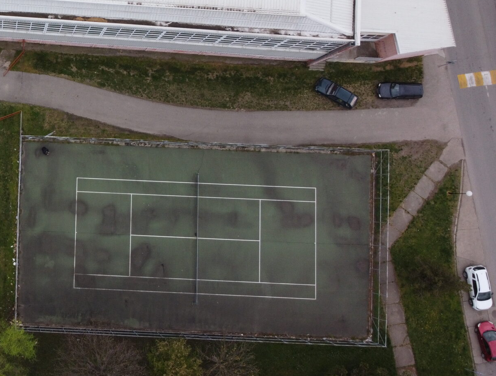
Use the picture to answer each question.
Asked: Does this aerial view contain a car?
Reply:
Yes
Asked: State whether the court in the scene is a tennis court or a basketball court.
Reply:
tennis court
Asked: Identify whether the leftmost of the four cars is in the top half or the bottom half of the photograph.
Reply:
top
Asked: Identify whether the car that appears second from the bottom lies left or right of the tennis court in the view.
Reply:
to its right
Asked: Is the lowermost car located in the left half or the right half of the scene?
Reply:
right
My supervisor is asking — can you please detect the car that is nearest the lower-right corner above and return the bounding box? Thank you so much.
[472,319,496,367]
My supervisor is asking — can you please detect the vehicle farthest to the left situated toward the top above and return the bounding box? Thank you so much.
[311,77,360,112]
